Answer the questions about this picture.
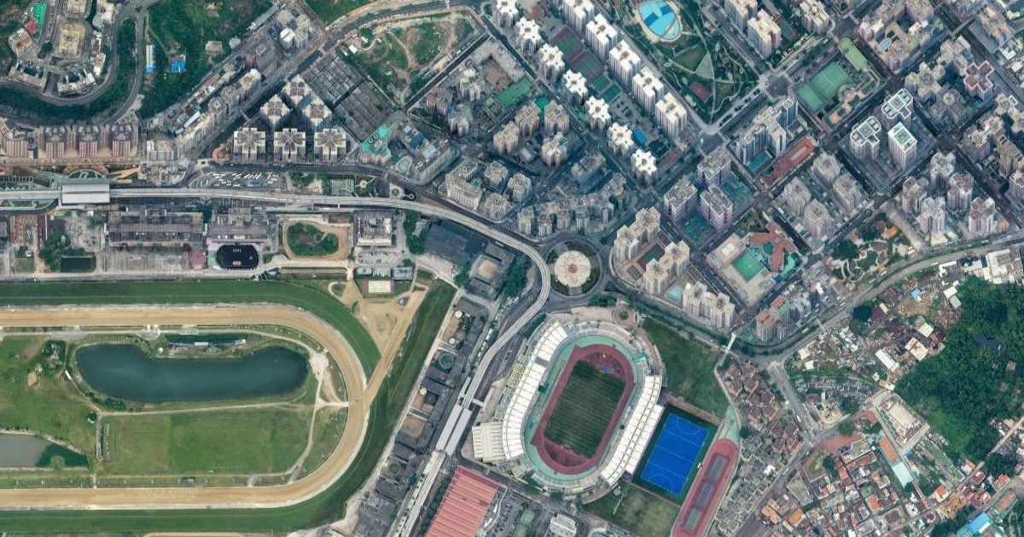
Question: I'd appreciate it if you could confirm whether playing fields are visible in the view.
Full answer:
Yes, a playing field appears in the view.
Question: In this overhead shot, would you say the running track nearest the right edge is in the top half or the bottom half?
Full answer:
The running track nearest the right edge is in the bottom half of the image.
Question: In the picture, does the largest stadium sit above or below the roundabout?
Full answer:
From this view, the largest stadium can be seen below the roundabout.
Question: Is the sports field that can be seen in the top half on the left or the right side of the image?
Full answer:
The sports field that can be seen in the top half appears in the right half of the scene.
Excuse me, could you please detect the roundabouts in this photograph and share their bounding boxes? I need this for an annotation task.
[533,230,612,310]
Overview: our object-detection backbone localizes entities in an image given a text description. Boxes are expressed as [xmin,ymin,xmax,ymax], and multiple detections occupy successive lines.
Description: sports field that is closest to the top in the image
[796,59,853,111]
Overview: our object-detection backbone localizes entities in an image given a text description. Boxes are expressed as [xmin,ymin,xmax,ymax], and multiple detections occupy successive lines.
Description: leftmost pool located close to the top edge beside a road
[635,0,683,44]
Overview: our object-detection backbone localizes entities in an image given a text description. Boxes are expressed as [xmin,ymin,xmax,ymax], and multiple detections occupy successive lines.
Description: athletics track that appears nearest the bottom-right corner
[670,437,742,537]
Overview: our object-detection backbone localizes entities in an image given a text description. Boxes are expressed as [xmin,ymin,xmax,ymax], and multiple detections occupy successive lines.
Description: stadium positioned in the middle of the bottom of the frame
[494,307,666,513]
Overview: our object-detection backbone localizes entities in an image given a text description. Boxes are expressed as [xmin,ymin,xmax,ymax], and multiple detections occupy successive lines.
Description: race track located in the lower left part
[0,279,457,534]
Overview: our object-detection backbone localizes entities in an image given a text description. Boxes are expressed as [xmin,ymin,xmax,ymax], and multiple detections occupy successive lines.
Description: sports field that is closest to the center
[544,361,625,457]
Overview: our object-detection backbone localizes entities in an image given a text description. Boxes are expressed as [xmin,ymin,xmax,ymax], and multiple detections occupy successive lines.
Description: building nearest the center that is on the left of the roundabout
[469,244,515,300]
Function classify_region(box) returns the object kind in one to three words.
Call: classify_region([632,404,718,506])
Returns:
sports field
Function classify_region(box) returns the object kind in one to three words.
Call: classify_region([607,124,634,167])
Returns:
building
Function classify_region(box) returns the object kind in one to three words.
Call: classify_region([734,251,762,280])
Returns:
sports court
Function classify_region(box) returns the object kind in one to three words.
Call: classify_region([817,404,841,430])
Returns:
house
